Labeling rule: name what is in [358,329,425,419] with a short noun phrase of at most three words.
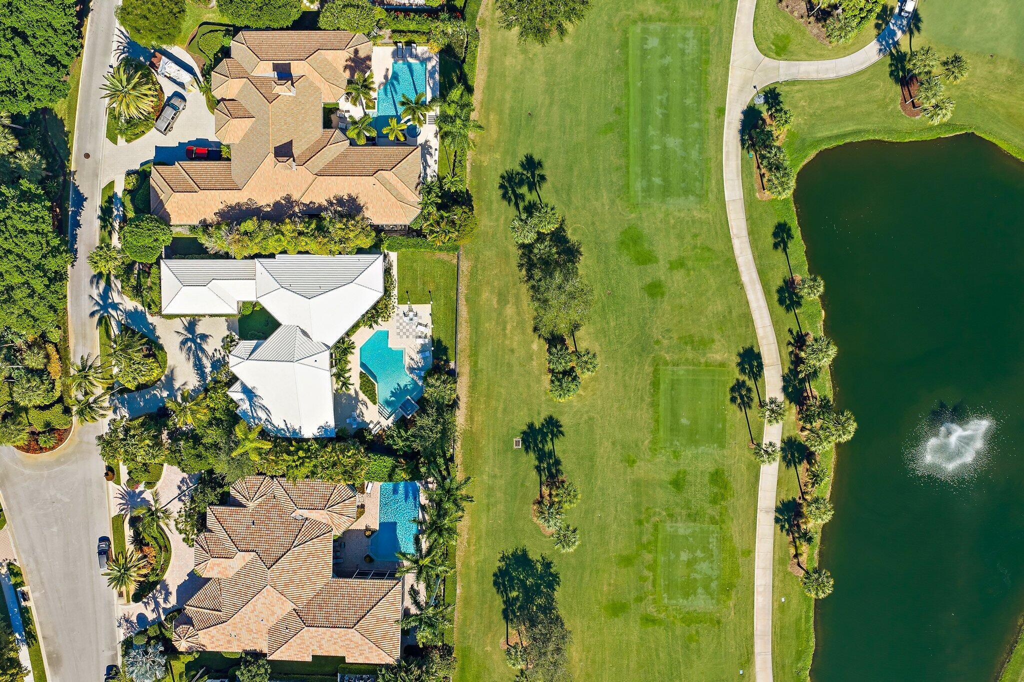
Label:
swimming pool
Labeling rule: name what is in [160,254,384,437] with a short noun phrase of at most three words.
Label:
house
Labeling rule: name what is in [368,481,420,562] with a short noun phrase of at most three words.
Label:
swimming pool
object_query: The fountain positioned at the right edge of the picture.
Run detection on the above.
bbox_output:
[895,402,1017,482]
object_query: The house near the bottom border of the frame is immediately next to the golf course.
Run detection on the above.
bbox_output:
[170,476,401,664]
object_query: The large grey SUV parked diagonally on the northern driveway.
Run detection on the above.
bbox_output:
[155,94,188,137]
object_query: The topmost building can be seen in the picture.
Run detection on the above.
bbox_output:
[151,30,422,224]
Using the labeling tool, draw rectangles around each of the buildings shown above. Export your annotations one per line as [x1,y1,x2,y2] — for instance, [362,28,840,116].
[170,476,401,664]
[151,30,422,224]
[160,254,384,437]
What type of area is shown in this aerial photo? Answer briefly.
golf course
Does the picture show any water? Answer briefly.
Yes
